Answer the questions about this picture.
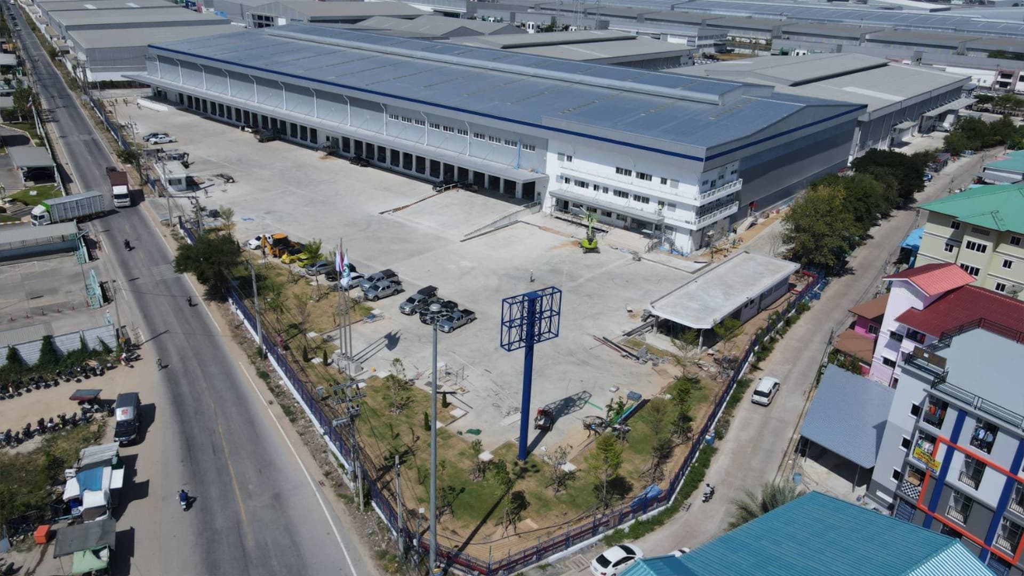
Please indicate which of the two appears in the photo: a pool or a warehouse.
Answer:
warehouse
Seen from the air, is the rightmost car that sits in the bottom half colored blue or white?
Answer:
white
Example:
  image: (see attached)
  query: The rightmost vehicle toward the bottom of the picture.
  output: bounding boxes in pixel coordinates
[750,373,782,402]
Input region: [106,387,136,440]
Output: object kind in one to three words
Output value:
truck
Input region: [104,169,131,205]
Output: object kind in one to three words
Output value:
truck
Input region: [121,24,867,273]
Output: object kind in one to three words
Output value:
warehouse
